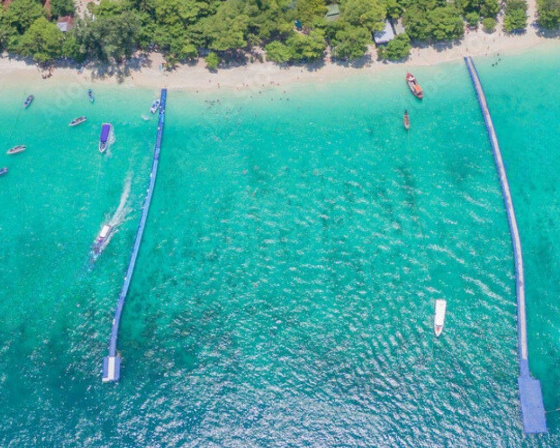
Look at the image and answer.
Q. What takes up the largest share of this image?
water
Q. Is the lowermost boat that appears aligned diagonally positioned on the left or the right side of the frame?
left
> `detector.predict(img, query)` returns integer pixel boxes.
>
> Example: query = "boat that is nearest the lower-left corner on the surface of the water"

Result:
[94,221,114,252]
